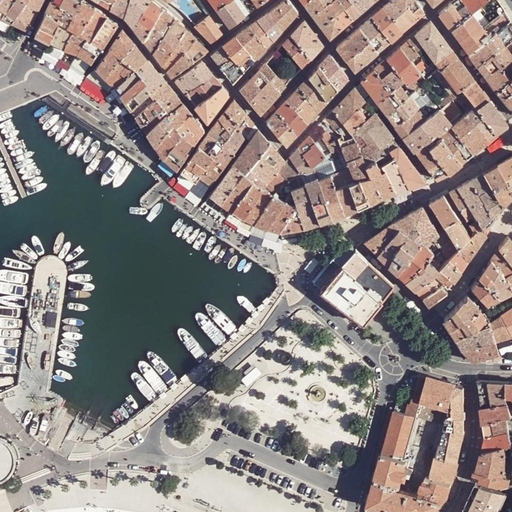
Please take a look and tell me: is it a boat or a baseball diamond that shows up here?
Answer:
boat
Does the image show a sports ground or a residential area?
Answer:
residential area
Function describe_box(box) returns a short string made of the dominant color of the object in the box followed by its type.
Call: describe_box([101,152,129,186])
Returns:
white boat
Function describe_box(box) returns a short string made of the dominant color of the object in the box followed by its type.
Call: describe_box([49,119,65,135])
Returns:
white boat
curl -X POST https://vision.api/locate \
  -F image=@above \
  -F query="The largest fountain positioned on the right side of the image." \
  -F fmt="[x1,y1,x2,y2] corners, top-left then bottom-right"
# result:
[306,382,328,402]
